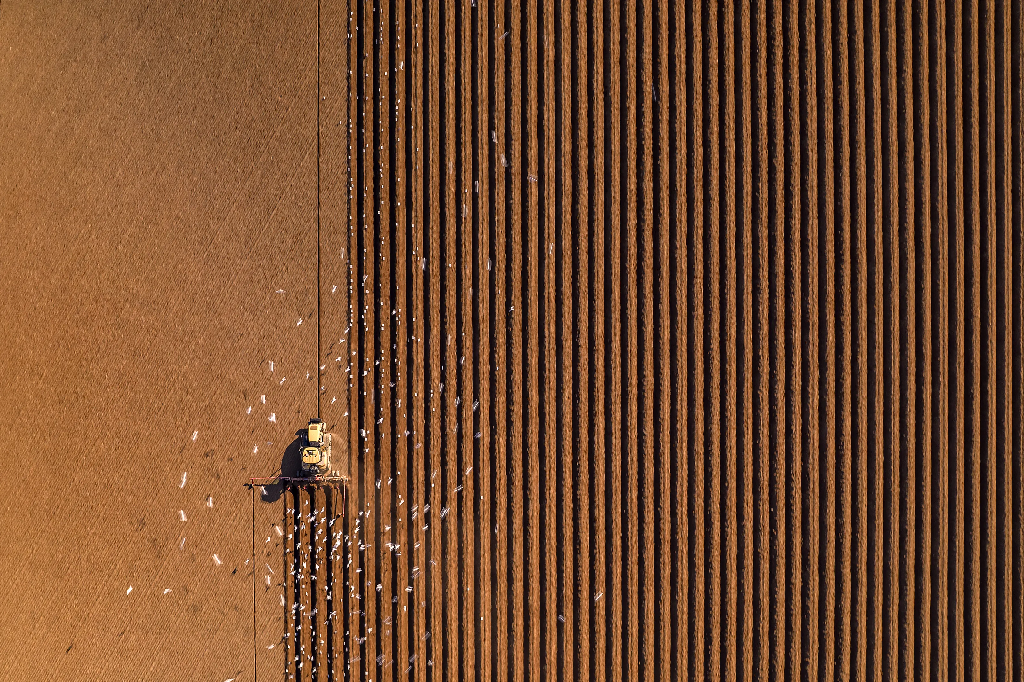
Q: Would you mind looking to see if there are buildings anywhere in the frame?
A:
No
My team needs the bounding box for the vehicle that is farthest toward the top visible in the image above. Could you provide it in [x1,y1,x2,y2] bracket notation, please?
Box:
[300,418,333,477]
